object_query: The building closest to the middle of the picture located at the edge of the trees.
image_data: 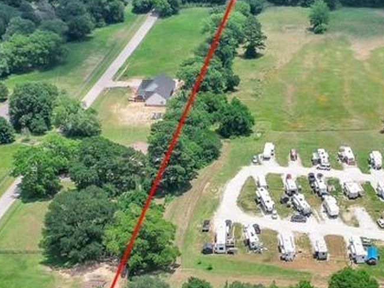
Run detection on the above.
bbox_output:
[133,78,180,107]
